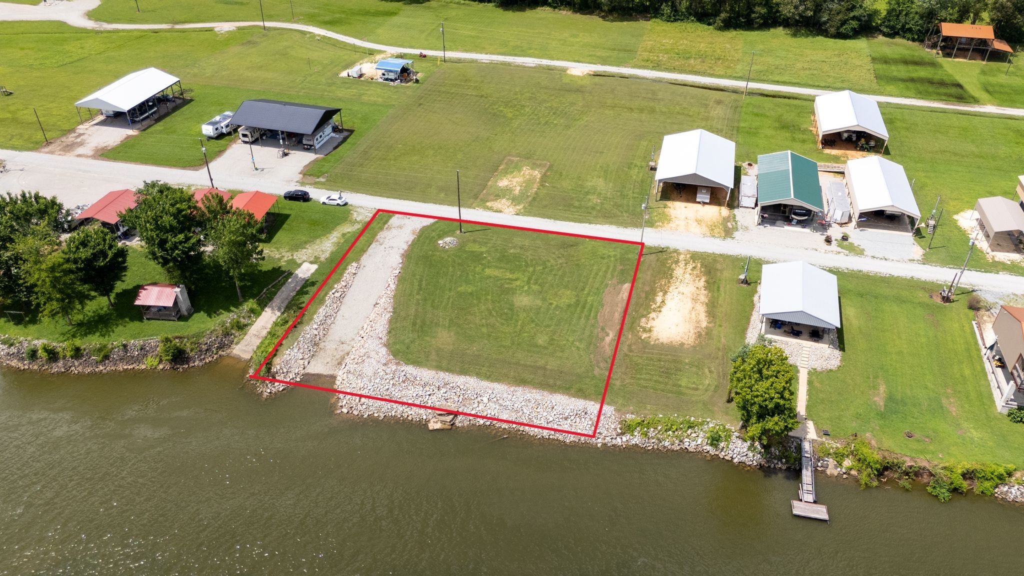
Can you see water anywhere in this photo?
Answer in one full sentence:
Yes, water can be seen from above here.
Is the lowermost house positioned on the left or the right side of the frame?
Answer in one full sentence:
You can find the lowermost house on the right side of the picture.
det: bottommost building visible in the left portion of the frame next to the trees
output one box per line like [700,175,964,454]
[136,283,194,325]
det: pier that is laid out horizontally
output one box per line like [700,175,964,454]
[791,500,828,523]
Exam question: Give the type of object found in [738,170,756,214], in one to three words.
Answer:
trailer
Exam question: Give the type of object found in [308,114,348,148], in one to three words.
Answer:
trailer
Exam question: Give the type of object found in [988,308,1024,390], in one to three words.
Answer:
house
